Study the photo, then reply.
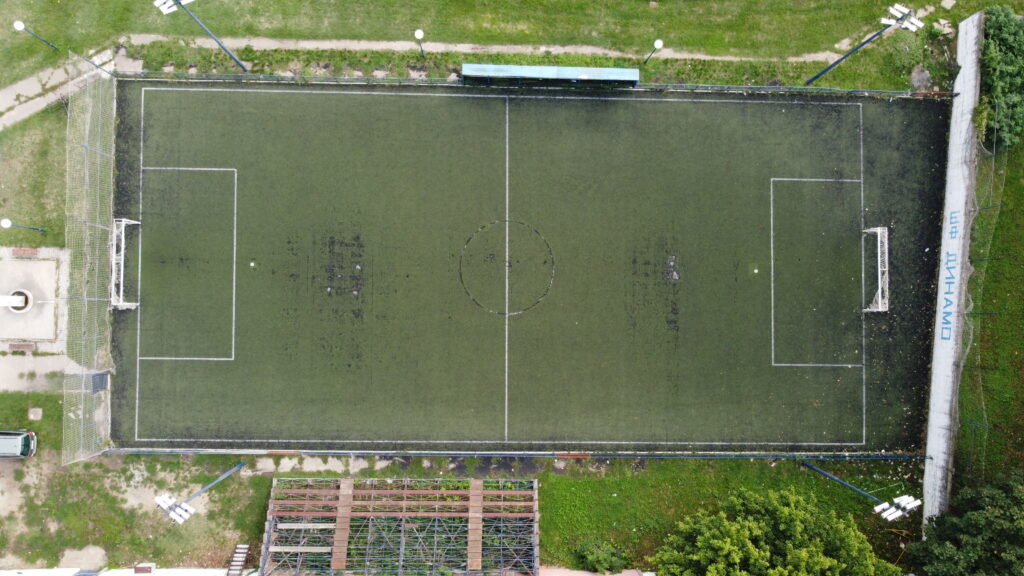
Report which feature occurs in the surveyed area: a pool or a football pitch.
football pitch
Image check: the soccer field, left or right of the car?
to the right of it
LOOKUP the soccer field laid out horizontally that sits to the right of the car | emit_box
[110,83,954,453]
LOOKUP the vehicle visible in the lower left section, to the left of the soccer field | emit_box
[0,430,39,457]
